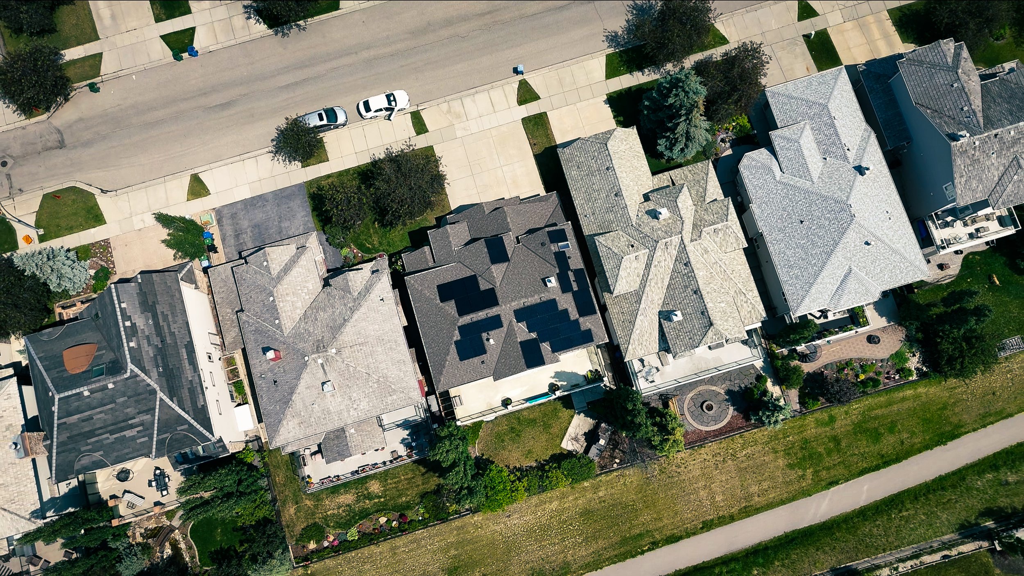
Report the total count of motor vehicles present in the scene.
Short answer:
2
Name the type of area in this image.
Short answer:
residential area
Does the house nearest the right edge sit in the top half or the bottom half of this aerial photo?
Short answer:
top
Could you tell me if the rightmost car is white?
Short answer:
Yes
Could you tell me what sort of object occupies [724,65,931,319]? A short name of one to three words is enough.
house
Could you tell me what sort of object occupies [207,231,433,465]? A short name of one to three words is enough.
house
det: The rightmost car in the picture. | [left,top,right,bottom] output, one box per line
[356,89,413,125]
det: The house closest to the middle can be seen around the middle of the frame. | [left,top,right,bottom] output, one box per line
[401,191,609,392]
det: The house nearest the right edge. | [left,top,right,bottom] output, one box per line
[850,38,1024,223]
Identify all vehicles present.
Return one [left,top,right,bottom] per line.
[356,89,413,125]
[290,100,354,132]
